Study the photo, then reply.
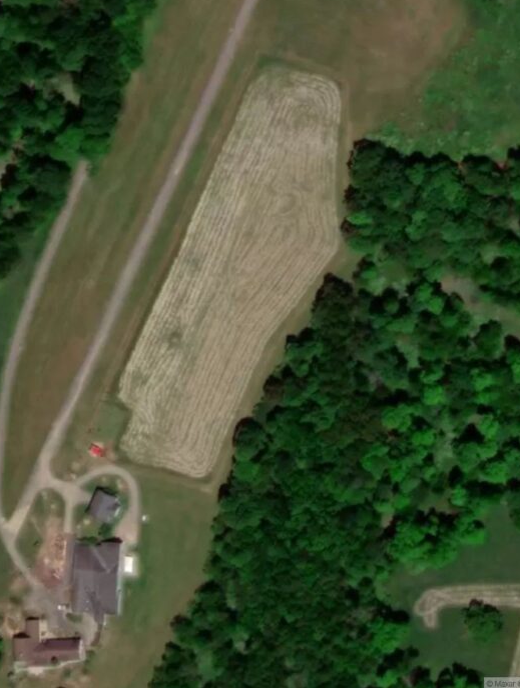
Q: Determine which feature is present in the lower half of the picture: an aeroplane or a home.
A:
home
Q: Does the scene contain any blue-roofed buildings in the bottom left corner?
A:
No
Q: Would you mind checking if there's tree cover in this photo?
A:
Yes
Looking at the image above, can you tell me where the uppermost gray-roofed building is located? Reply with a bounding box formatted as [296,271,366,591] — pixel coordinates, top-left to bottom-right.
[88,488,119,523]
